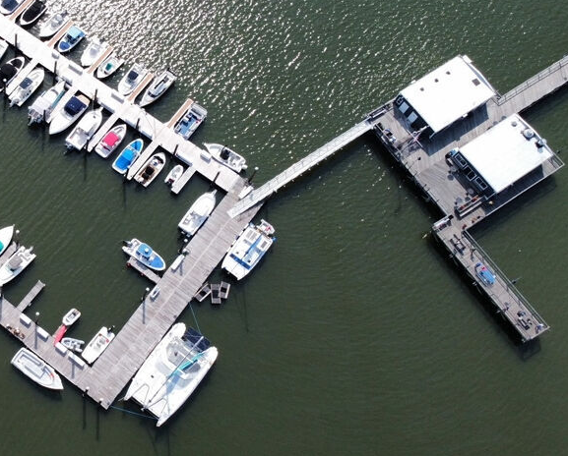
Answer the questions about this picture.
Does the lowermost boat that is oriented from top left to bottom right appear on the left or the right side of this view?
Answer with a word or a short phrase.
left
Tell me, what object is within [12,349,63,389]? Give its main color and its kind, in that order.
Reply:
white boat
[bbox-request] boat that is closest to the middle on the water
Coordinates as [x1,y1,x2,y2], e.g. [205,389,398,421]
[259,218,275,233]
